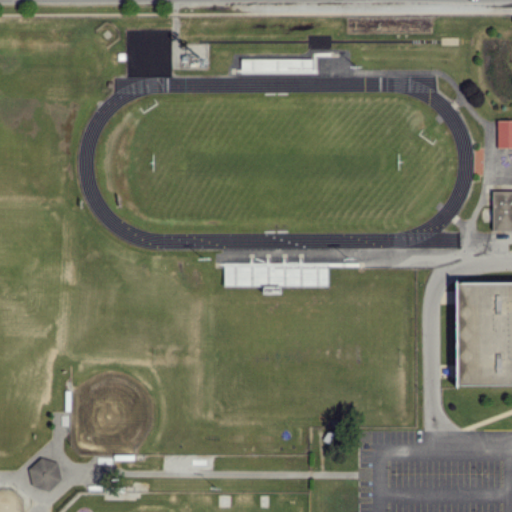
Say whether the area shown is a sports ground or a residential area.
sports ground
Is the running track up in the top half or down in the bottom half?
top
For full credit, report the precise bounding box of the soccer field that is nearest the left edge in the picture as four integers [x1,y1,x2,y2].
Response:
[0,202,60,438]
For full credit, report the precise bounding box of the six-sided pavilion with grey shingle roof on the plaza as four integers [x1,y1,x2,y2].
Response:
[28,457,61,491]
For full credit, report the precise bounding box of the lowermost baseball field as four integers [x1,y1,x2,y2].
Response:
[72,364,200,455]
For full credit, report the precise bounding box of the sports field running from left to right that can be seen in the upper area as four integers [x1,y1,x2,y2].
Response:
[94,92,458,234]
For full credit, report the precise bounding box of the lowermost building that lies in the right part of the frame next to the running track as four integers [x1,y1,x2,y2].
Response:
[456,280,512,388]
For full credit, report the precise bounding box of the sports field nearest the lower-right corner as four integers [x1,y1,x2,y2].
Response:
[206,298,414,426]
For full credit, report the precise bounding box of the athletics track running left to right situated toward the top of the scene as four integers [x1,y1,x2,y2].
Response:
[78,76,473,250]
